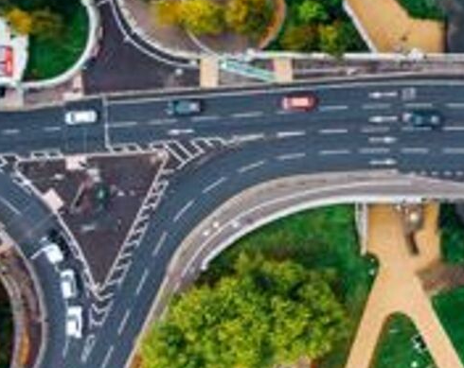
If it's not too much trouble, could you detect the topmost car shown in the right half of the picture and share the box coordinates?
[283,95,316,111]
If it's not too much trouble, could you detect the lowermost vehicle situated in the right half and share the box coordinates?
[405,111,440,128]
